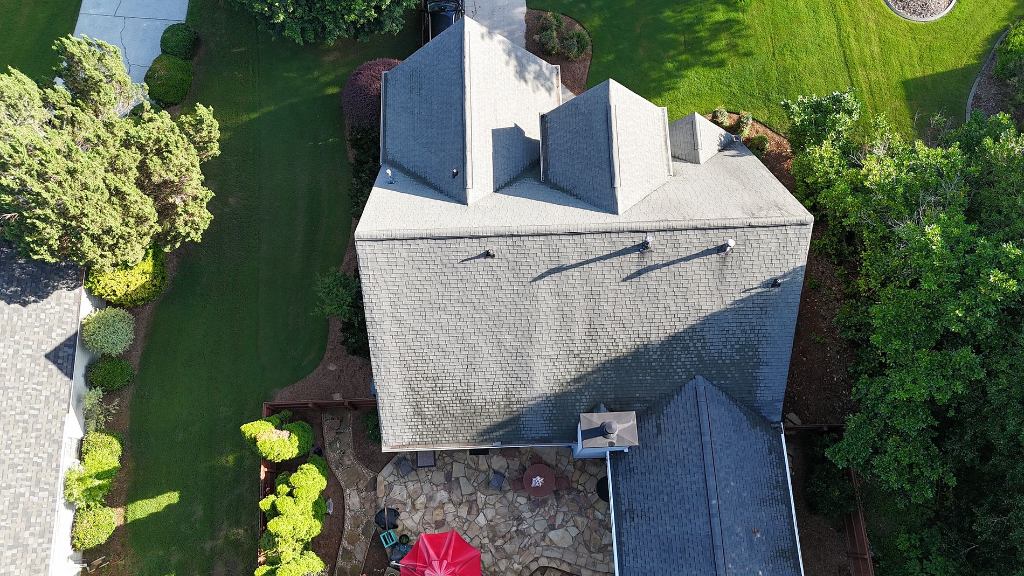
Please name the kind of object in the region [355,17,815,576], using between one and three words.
house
